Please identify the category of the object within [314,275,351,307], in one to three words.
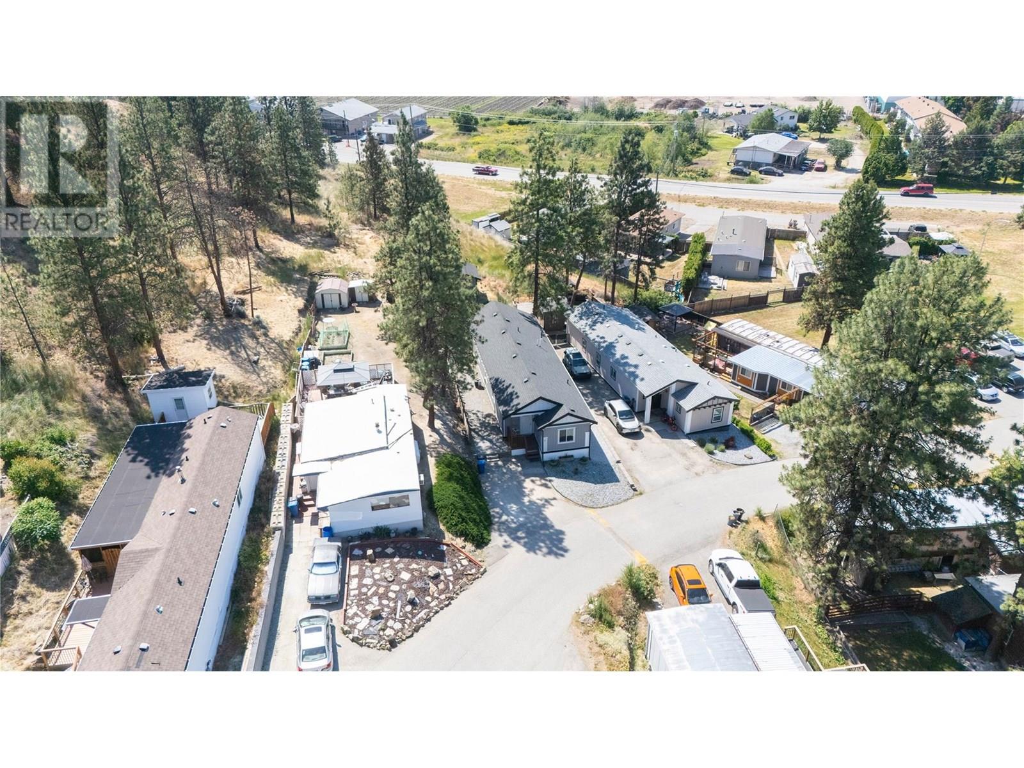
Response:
shed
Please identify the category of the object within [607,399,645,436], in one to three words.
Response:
car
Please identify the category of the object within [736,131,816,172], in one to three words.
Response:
house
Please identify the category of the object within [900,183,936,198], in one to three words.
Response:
car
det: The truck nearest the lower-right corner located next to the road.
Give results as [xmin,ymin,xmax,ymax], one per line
[716,546,785,620]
